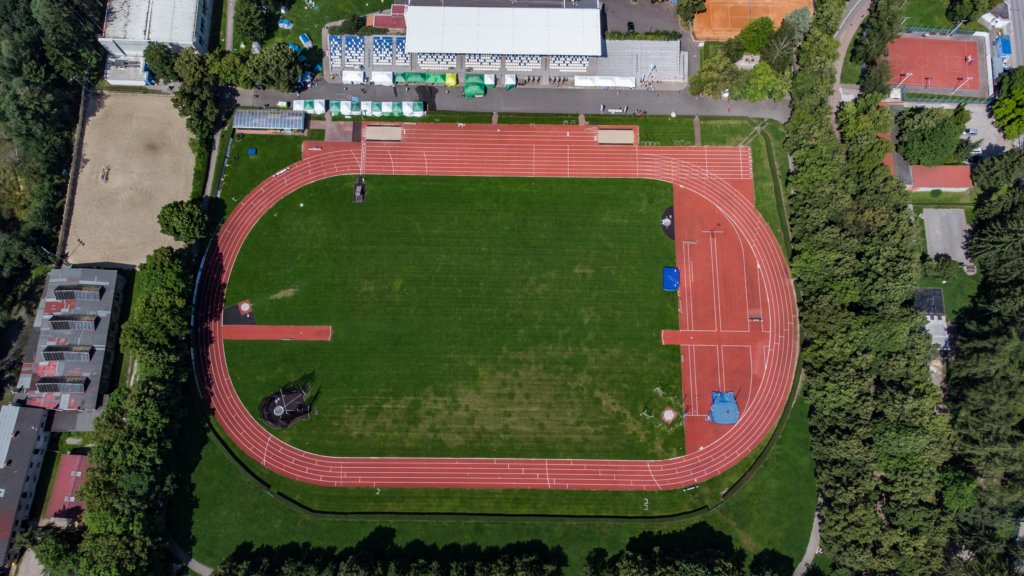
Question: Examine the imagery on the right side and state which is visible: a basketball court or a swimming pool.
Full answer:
Visible on the right side is a basketball court.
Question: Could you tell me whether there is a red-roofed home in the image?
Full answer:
Yes, you can see a red-roofed home in this photo.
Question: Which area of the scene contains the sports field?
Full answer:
The sports field sits in the center section of the image.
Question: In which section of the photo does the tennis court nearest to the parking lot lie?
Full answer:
The tennis court nearest to the parking lot is located in the top right region of the scene.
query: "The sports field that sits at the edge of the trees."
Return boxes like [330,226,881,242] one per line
[223,173,687,460]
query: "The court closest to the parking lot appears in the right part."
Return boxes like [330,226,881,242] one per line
[693,0,808,42]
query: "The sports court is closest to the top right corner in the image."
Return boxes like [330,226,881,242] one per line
[883,31,985,98]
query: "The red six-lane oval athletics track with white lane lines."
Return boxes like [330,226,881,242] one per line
[194,123,799,491]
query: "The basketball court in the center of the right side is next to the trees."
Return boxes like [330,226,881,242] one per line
[922,208,972,262]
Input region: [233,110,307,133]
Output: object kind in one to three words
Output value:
shed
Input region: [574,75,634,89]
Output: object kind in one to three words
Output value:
tent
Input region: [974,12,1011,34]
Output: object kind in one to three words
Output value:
building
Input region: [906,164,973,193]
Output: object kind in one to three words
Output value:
house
